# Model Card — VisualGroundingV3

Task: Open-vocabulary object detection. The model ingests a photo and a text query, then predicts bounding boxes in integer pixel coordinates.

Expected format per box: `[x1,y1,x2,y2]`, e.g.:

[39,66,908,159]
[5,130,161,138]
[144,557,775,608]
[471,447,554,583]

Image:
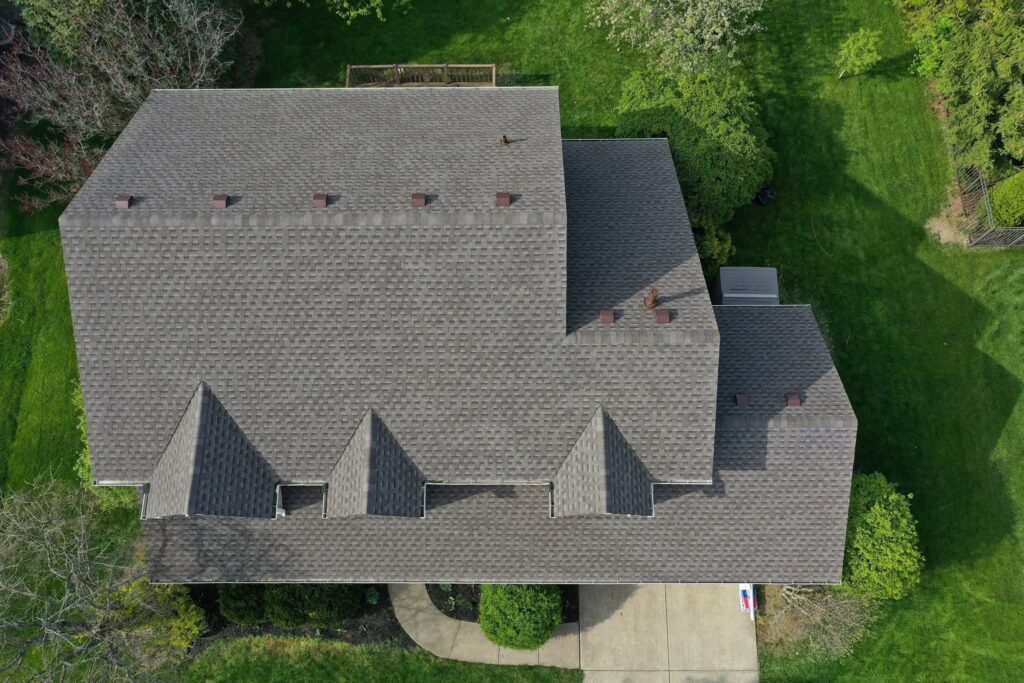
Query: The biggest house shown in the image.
[59,87,857,584]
